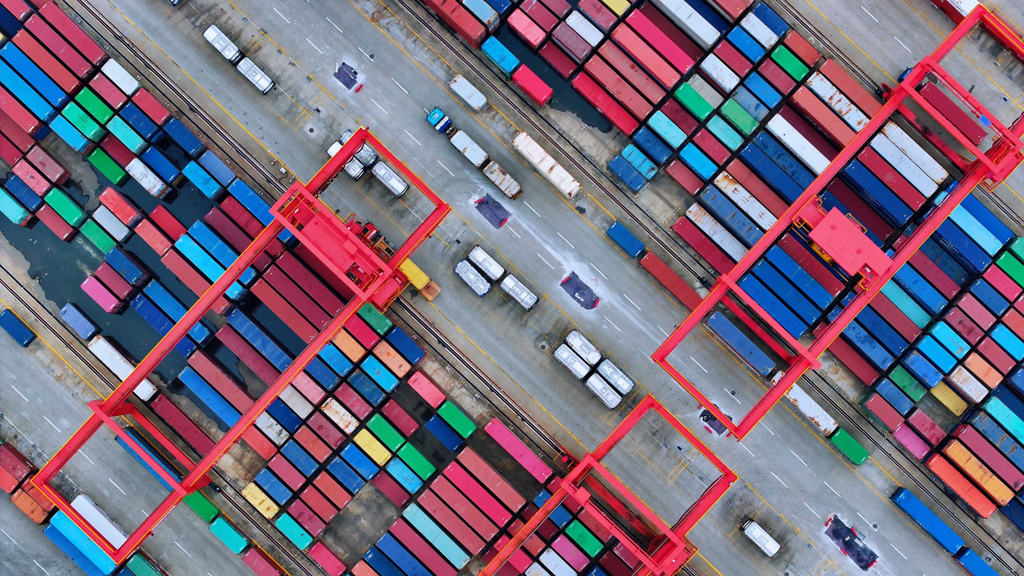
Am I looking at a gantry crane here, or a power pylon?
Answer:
gantry crane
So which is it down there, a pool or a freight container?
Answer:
freight container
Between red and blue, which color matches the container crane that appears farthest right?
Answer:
red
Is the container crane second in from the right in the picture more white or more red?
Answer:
red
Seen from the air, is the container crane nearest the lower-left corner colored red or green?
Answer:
red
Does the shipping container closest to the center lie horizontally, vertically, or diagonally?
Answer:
diagonally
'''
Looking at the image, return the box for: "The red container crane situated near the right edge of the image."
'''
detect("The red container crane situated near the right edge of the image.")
[649,2,1024,442]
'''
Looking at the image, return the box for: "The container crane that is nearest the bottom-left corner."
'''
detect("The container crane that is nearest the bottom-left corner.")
[28,126,452,565]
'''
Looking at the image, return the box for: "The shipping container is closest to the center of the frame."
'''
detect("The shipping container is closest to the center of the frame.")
[499,273,538,312]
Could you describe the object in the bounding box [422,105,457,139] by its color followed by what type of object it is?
blue truck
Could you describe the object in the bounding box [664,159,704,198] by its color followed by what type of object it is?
red shipping container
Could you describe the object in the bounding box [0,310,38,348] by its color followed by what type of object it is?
blue shipping container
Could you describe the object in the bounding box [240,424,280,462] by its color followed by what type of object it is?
red shipping container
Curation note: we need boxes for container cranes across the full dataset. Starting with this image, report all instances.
[478,393,739,576]
[649,2,1024,442]
[28,126,452,565]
